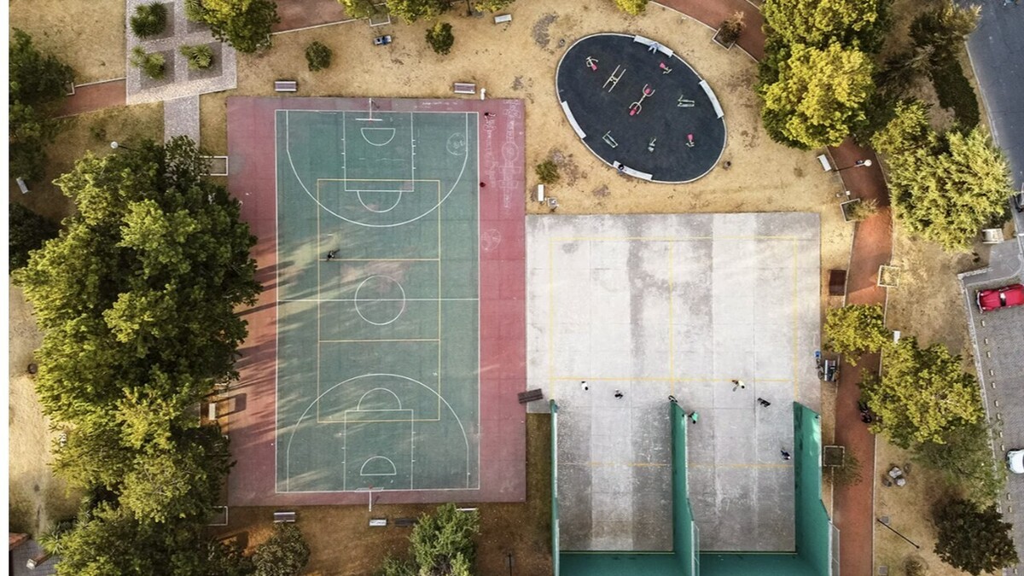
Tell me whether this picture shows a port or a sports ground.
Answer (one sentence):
The area seen from above is a sports ground.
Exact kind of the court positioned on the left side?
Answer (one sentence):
Specifically, the court positioned on the left side is a basketball court.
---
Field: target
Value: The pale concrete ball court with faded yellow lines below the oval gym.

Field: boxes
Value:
[527,214,821,553]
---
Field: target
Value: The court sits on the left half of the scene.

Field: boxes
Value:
[227,97,525,506]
